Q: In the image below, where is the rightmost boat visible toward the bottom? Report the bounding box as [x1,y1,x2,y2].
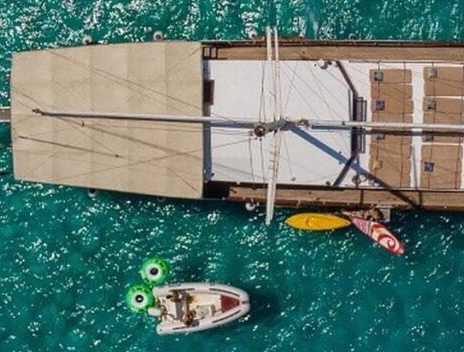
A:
[286,212,350,230]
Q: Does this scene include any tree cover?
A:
No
